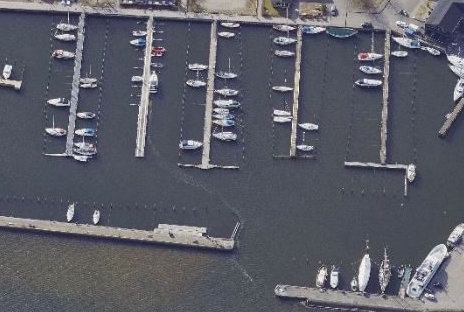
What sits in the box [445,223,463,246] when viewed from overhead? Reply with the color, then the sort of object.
white boat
